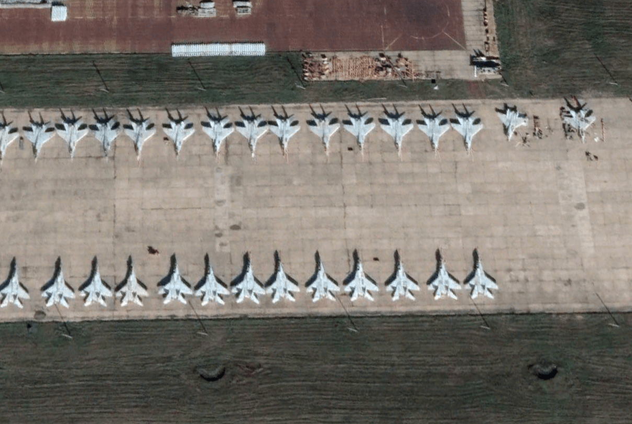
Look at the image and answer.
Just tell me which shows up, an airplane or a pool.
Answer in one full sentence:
There is an airplane in the scene.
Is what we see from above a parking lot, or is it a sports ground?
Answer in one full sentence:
This looks like a parking lot.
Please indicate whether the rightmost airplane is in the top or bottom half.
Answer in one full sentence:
It is in the top half that the rightmost airplane appears.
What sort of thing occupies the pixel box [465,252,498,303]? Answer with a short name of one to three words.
airplane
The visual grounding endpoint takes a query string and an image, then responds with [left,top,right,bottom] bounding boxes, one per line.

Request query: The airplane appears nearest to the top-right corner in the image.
[566,108,596,146]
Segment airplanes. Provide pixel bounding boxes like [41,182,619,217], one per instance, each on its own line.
[451,112,484,163]
[428,252,461,303]
[0,122,19,169]
[308,112,340,161]
[386,252,420,305]
[307,254,340,305]
[380,113,414,161]
[163,117,195,167]
[42,260,75,309]
[56,118,89,168]
[159,257,192,306]
[202,115,234,163]
[24,120,55,168]
[465,252,498,303]
[343,113,376,162]
[345,255,378,304]
[269,115,301,165]
[116,259,149,308]
[0,261,30,311]
[267,255,300,305]
[124,117,156,168]
[418,112,451,161]
[196,256,229,309]
[566,108,596,146]
[497,106,528,143]
[235,115,268,164]
[231,256,266,306]
[91,119,123,167]
[80,259,113,309]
